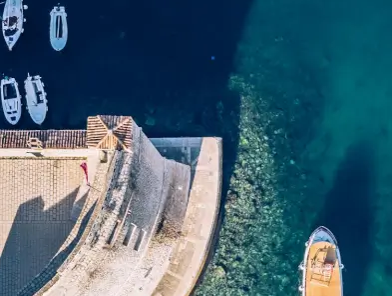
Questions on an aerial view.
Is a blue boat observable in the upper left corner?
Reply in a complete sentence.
Yes, looking in the upper left corner, one can make out a blue boat.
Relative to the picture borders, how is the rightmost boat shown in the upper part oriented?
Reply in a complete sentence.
The rightmost boat shown in the upper part has been laid out from top to bottom relative to the frame.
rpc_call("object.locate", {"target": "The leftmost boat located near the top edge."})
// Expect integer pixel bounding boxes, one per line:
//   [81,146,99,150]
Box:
[0,0,29,51]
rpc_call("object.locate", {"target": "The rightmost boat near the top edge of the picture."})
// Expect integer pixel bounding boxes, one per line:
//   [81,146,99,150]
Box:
[47,3,69,51]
